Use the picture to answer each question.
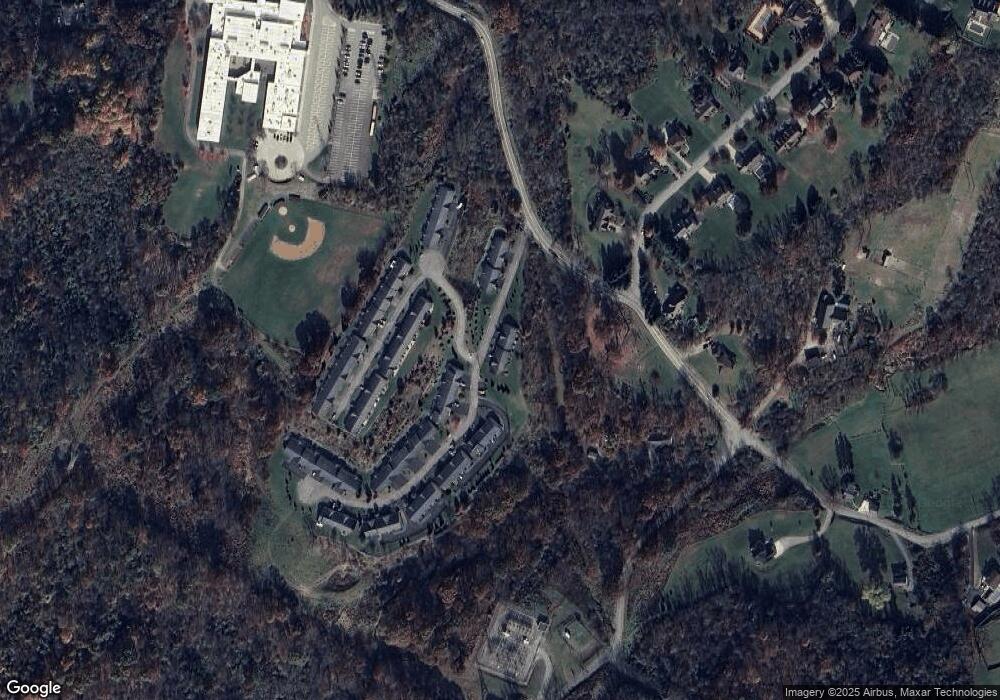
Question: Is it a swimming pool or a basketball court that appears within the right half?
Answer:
swimming pool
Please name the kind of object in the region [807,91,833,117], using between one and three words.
house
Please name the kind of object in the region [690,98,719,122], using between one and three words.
house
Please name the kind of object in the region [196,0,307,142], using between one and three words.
building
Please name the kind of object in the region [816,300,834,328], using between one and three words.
building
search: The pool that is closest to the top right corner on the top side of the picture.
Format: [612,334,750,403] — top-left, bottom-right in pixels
[967,19,987,35]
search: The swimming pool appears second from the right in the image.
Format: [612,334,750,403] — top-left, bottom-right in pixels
[881,33,899,53]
